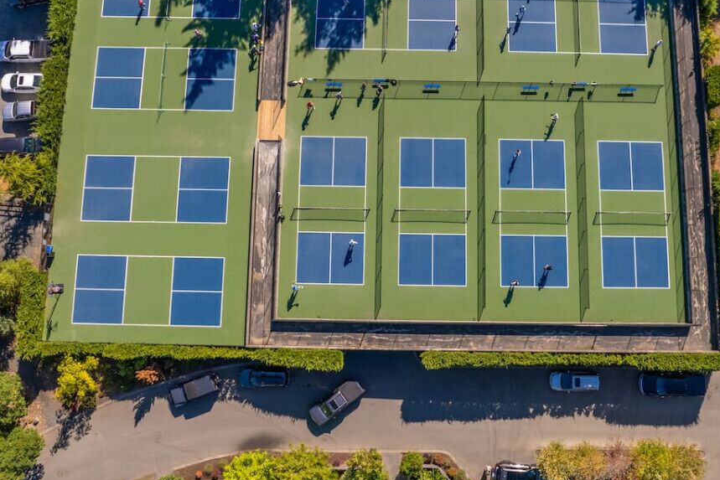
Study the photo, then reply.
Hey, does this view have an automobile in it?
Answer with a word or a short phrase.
Yes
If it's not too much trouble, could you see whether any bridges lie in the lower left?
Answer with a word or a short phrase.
No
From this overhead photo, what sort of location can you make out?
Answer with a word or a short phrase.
sports ground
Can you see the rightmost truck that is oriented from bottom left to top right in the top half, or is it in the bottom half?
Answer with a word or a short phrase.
bottom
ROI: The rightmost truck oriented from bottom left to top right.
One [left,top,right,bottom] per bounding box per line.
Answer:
[305,377,369,428]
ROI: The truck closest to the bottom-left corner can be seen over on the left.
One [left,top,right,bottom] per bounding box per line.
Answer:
[165,372,222,410]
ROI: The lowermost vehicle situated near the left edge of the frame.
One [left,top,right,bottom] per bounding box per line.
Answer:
[0,134,54,159]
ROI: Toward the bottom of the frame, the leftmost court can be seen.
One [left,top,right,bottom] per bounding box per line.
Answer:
[71,255,225,325]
